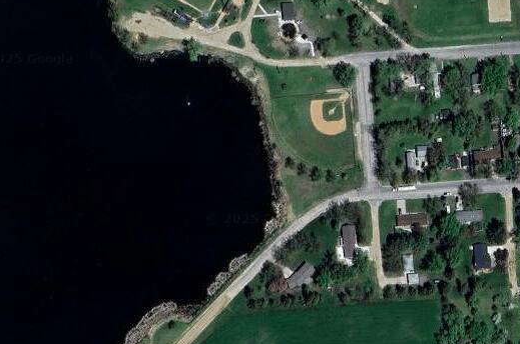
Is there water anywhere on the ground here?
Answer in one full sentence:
Yes, there's water in this view.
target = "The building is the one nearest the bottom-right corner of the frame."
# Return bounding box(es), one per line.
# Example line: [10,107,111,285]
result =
[471,243,488,270]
